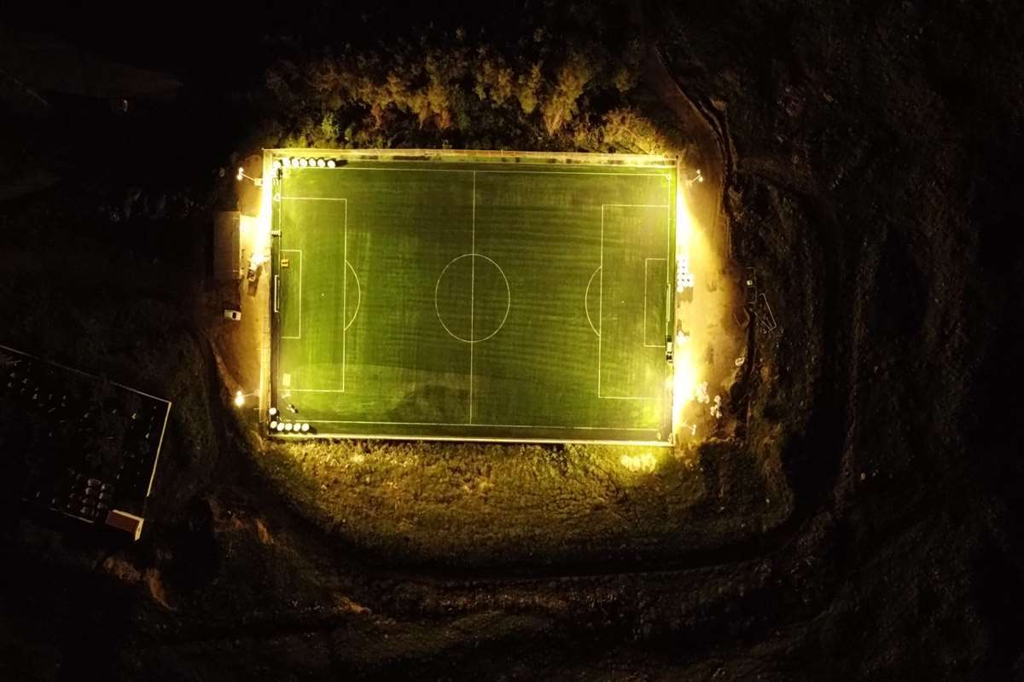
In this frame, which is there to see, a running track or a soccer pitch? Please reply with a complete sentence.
I can see a soccer pitch in this picture.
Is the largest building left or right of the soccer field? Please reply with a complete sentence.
Looking at the picture, you'll find the largest building to the left of the soccer field.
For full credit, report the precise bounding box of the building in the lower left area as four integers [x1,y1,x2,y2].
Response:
[98,510,144,545]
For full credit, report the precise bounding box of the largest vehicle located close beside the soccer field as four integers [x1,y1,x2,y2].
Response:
[247,251,264,280]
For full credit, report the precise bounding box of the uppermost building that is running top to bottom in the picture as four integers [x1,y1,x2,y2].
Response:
[208,211,240,277]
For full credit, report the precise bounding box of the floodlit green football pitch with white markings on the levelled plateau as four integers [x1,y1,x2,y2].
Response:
[271,154,677,443]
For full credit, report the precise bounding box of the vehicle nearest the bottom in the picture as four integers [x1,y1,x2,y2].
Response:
[221,309,240,321]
